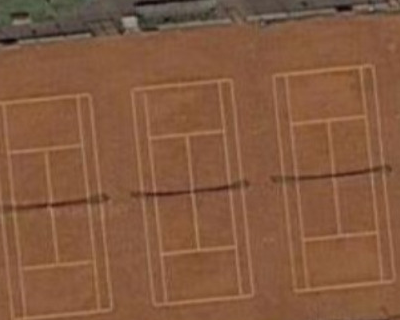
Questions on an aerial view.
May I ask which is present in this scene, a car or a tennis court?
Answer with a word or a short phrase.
tennis court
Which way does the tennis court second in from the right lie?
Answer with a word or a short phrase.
up and down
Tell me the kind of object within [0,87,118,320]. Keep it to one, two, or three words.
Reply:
tennis court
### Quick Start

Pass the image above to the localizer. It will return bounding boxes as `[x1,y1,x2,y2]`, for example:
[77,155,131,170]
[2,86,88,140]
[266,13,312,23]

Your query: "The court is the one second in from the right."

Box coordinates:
[126,73,259,311]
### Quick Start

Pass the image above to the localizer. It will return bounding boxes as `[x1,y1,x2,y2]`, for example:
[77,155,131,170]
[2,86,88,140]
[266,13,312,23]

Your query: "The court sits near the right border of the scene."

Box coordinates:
[268,58,400,297]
